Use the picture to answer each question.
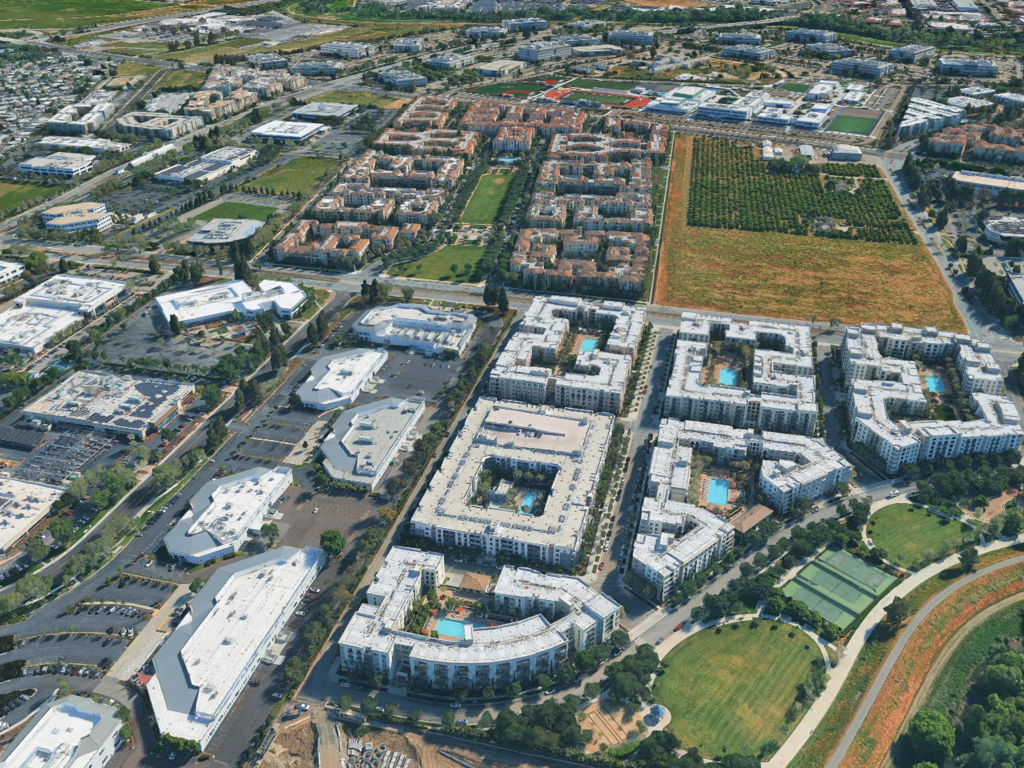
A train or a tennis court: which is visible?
tennis court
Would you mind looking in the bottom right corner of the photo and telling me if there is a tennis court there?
Yes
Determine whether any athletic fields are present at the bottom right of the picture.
No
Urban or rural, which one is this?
urban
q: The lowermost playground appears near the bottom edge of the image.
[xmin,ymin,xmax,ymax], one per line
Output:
[576,701,644,753]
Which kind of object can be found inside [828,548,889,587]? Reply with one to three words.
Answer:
tennis court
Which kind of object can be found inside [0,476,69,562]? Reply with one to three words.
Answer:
building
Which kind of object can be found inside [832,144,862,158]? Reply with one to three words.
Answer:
barn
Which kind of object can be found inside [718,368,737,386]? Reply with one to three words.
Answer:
swimming pool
